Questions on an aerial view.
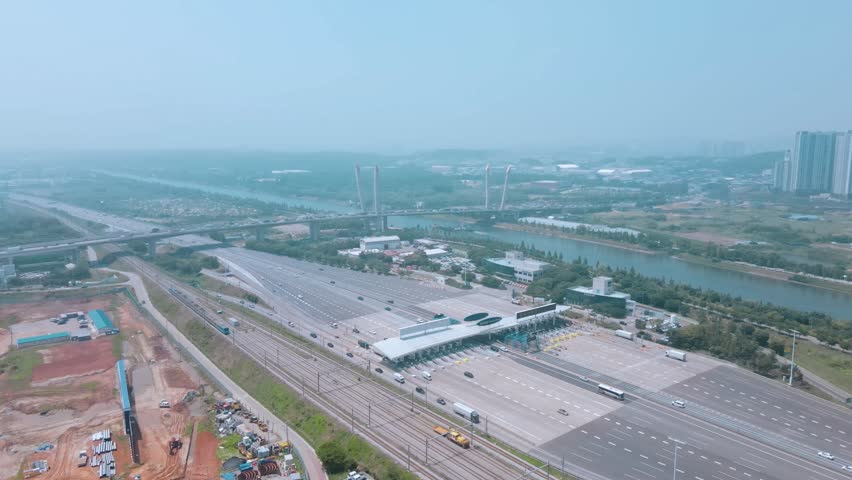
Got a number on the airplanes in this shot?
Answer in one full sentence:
The count of airplanes is 0.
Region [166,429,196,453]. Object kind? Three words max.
work vehicle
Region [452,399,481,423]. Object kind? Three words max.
truck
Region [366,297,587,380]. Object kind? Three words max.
toll station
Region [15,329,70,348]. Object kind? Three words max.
shed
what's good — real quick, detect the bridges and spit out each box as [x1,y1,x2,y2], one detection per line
[0,163,691,261]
